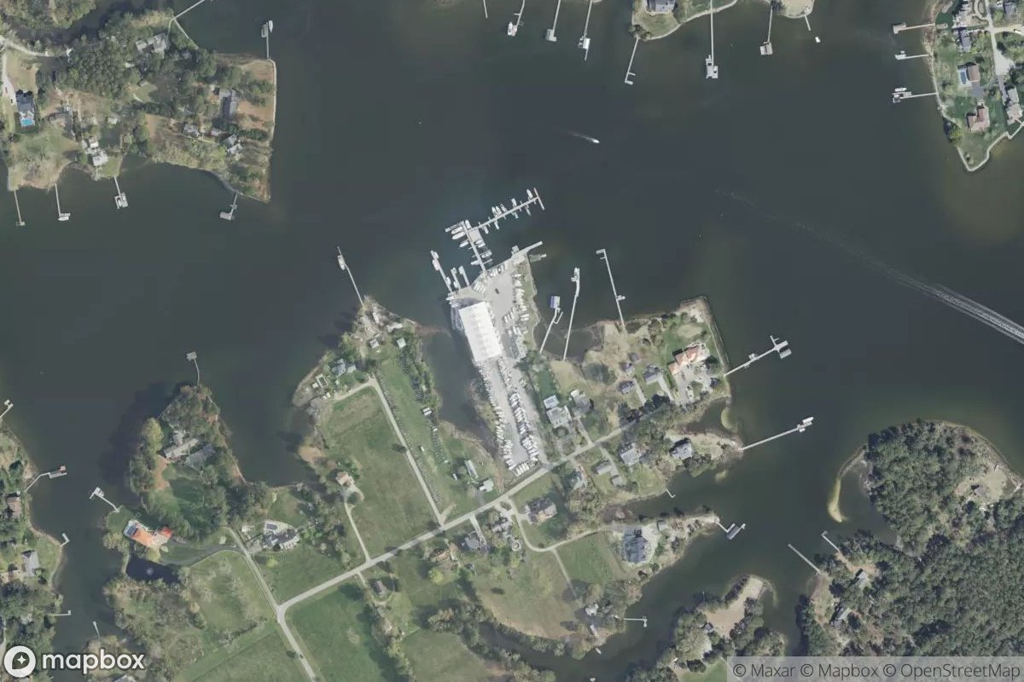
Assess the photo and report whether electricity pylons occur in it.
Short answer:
No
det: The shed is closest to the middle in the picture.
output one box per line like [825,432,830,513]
[459,301,501,362]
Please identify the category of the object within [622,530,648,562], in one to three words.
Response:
house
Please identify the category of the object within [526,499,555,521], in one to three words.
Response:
house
